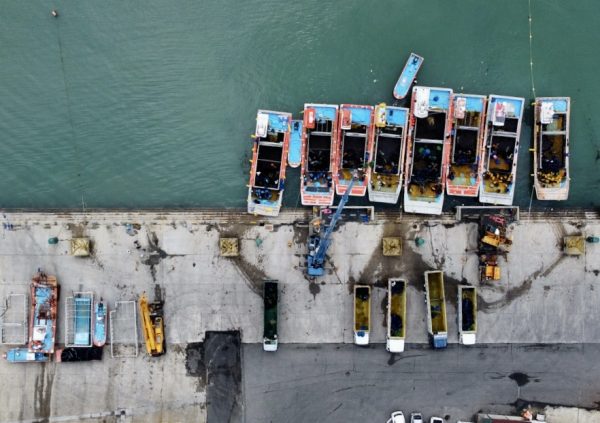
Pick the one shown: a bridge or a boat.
boat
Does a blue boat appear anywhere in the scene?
Yes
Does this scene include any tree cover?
No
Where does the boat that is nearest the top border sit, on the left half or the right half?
right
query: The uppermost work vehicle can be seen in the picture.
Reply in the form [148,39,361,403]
[473,228,514,250]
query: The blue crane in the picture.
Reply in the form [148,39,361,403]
[299,178,356,279]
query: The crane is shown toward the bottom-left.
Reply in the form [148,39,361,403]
[141,291,169,355]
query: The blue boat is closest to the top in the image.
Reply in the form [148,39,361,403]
[396,53,424,100]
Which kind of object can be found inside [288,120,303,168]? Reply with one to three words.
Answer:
boat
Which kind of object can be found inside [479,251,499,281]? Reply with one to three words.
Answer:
work vehicle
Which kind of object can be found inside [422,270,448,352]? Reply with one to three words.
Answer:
truck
